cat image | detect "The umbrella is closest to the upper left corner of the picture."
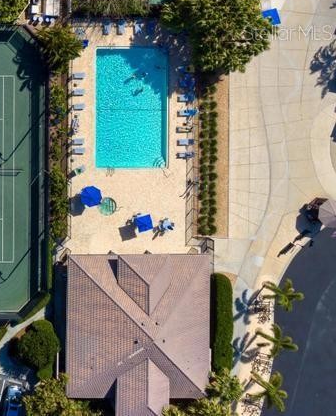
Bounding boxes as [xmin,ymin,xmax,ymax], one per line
[81,186,102,206]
